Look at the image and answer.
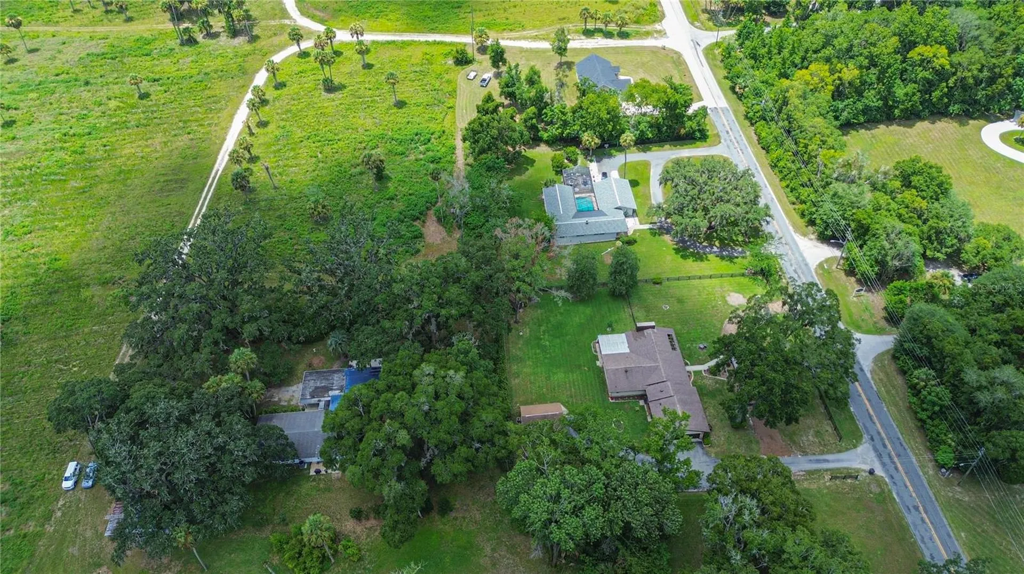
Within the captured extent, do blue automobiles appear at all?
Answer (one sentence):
Yes, looking at the shot, I can spot a blue automobile.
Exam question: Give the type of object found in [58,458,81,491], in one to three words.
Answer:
car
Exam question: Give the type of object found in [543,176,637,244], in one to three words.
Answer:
building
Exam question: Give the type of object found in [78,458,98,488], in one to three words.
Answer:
car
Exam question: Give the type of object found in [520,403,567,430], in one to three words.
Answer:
shed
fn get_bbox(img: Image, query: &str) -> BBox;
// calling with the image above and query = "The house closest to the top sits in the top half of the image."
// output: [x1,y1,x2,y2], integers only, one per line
[575,53,631,98]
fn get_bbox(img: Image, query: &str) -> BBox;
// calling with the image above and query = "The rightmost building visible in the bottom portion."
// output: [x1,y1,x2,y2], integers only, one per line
[597,320,710,438]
